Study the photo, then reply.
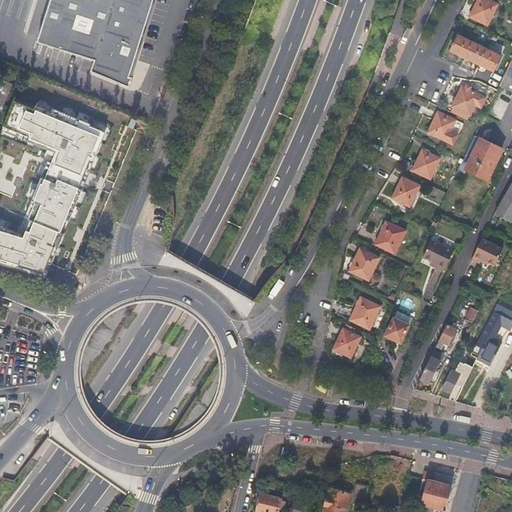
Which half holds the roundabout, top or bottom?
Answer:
bottom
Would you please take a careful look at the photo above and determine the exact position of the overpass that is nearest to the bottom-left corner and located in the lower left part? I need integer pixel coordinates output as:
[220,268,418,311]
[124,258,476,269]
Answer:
[42,414,144,497]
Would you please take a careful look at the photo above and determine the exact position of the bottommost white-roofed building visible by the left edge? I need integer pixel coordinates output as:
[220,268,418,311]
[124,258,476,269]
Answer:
[0,220,64,274]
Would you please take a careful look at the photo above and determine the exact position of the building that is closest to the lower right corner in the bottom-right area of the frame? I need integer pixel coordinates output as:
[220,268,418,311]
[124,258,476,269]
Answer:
[420,478,454,512]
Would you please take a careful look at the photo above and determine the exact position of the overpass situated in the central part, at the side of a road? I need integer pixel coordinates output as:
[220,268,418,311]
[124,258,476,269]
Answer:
[154,248,255,318]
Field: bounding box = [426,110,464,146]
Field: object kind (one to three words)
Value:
house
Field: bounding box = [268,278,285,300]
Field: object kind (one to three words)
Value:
vehicle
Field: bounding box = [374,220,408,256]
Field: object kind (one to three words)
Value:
house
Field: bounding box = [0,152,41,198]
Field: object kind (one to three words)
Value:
building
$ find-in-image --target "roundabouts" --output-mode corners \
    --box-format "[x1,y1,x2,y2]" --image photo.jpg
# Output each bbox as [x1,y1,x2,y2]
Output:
[50,273,250,472]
